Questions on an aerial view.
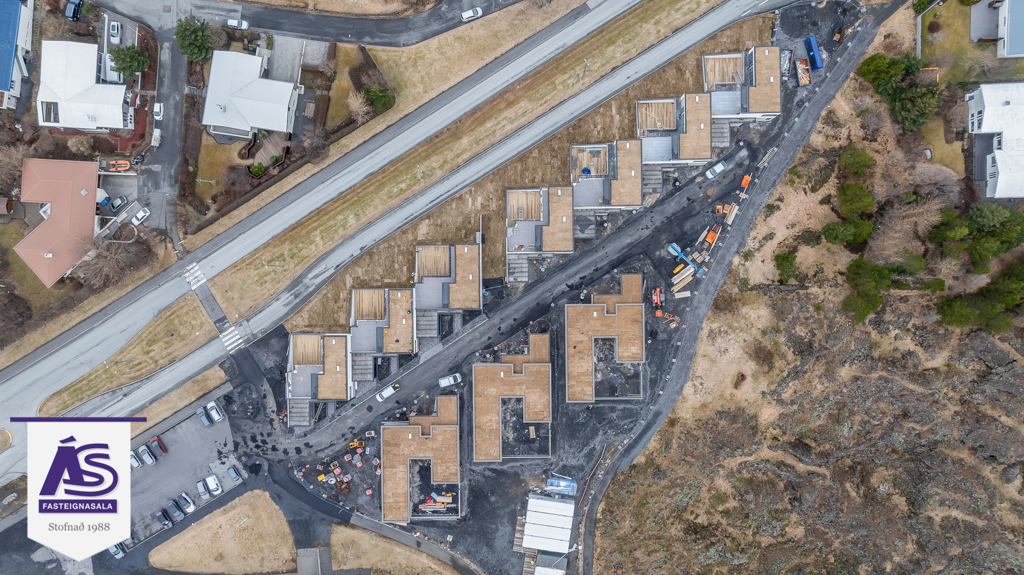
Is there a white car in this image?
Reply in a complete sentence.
Yes, you can see a white car in this photo.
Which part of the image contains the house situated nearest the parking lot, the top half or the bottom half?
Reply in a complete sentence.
Seen from above, the house situated nearest the parking lot lies in the bottom half of the view.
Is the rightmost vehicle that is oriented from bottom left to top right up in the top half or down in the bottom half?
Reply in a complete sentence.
You can find the rightmost vehicle that is oriented from bottom left to top right in the top half.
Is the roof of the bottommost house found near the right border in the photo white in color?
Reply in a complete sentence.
Yes, the roof of the bottommost house found near the right border appears white.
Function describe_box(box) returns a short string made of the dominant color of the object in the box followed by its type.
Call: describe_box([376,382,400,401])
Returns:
white vehicle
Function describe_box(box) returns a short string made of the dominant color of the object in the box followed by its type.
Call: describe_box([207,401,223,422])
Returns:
white car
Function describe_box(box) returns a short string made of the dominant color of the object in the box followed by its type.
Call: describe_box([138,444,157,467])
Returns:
white car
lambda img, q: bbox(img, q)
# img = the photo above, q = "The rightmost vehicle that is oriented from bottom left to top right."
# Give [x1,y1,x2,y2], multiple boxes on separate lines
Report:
[704,159,730,179]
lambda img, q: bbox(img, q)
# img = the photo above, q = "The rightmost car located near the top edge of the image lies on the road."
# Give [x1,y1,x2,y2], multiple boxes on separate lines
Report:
[459,7,482,22]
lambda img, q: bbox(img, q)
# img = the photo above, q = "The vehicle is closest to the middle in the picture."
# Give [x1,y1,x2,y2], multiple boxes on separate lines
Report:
[437,373,463,388]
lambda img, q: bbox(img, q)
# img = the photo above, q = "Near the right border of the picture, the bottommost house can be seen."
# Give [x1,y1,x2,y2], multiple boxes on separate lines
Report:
[958,84,1024,200]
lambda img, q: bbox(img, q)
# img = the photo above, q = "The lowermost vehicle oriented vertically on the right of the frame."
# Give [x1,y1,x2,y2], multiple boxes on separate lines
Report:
[651,289,663,317]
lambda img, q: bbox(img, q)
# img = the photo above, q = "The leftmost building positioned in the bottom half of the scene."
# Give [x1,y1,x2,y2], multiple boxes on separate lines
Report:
[287,334,355,442]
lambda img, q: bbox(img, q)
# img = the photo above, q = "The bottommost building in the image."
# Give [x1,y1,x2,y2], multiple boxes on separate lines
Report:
[523,494,574,554]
